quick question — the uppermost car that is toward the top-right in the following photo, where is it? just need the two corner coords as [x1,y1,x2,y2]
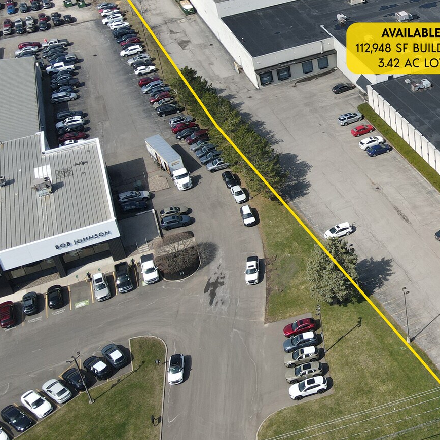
[331,84,355,96]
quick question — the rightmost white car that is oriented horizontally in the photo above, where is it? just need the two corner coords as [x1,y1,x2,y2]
[357,137,385,152]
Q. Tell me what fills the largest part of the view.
paved ground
